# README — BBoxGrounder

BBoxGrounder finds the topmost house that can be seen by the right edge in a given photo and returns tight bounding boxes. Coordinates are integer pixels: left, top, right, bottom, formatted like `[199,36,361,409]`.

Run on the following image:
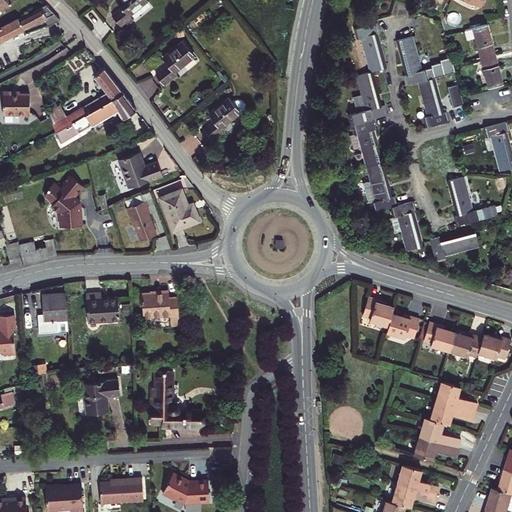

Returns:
[466,22,494,48]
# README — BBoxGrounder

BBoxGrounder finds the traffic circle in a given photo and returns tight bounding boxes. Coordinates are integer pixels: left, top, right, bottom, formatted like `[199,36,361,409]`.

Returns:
[221,188,340,302]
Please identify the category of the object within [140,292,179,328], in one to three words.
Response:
house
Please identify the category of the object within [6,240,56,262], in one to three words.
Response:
building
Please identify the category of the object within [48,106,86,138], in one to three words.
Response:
house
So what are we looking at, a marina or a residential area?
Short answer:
residential area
